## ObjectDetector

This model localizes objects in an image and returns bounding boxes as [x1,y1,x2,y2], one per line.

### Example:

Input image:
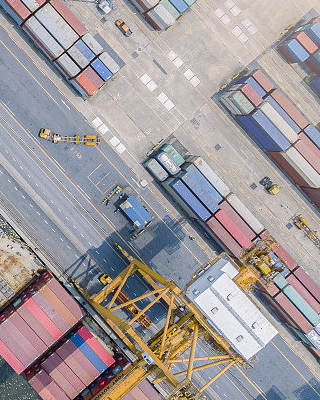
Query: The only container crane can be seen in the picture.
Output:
[73,238,298,400]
